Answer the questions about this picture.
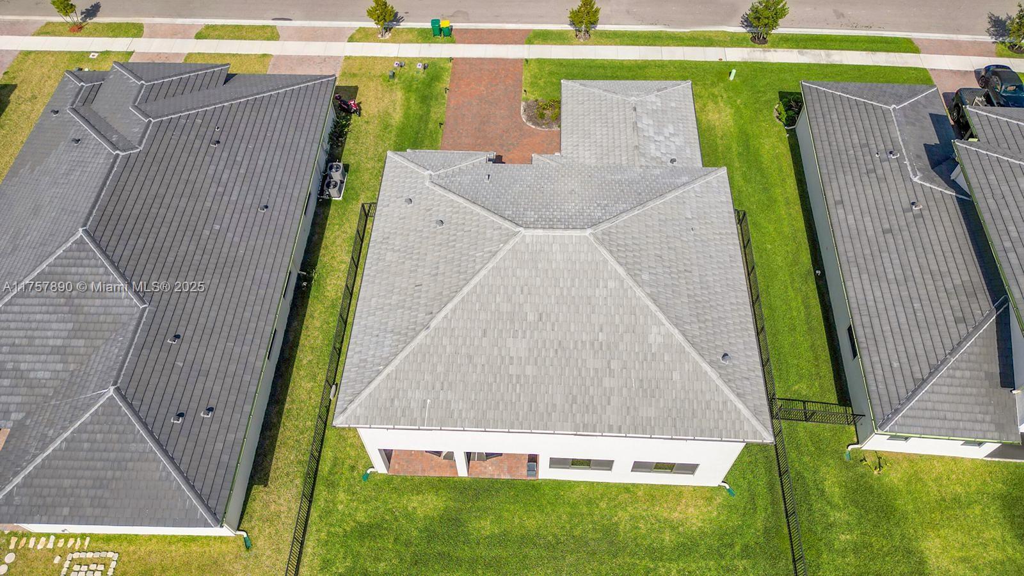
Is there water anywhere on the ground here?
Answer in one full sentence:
No, the scene doesn't show any water.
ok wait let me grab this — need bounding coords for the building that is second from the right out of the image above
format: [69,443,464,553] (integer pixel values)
[333,79,774,505]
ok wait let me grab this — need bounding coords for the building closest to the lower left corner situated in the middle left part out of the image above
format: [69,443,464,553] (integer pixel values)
[0,59,335,558]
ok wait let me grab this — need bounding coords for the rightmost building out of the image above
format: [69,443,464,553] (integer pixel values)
[789,79,1024,466]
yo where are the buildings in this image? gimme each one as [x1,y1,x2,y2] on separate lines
[789,79,1024,466]
[333,79,774,505]
[0,59,335,558]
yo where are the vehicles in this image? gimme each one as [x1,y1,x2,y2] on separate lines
[333,83,361,111]
[955,89,998,134]
[982,65,1024,109]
